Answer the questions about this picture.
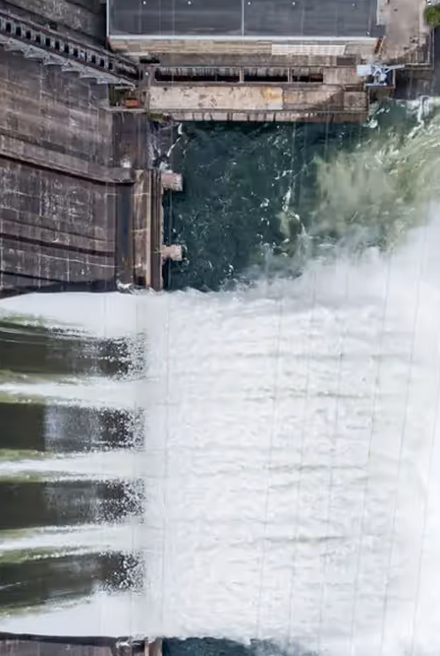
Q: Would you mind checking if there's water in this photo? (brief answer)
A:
Yes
